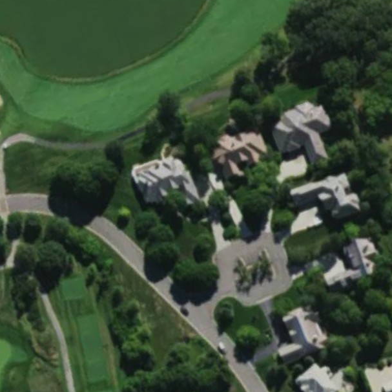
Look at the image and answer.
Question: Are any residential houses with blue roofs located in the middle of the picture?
No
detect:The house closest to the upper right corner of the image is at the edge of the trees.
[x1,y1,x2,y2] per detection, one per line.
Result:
[271,100,332,160]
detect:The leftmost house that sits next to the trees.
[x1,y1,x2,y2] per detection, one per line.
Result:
[126,154,201,207]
